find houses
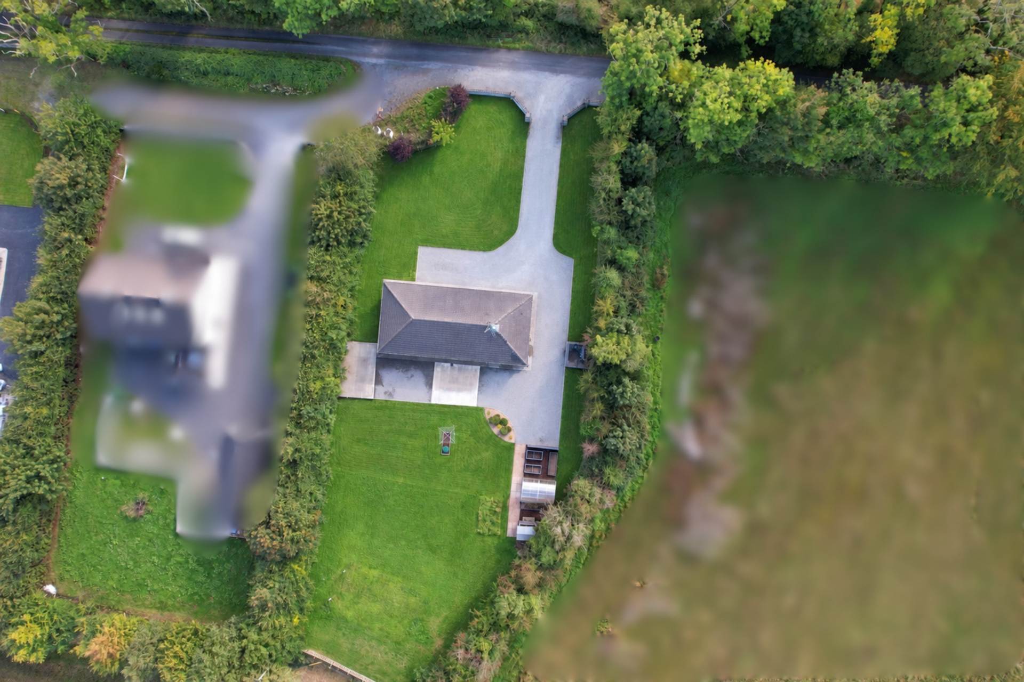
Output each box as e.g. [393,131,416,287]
[376,280,535,368]
[75,243,212,345]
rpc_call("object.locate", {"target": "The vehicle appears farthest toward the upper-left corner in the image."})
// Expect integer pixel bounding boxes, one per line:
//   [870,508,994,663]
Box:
[162,227,202,246]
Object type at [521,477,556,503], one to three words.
greenhouse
